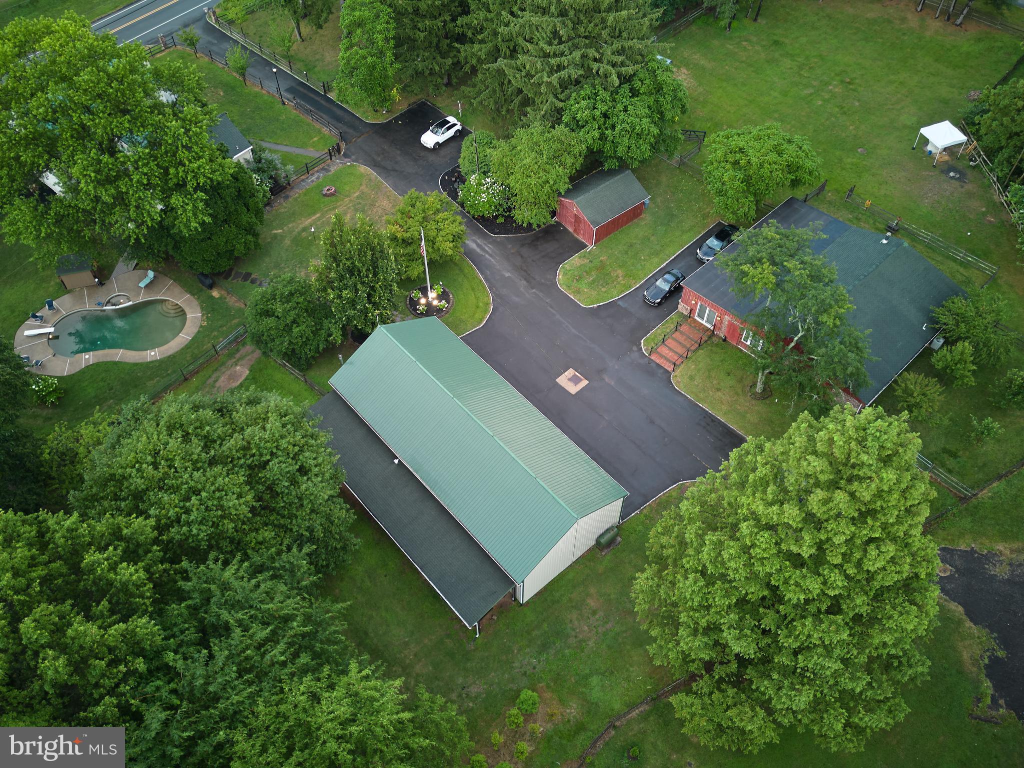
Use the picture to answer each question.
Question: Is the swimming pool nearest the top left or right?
left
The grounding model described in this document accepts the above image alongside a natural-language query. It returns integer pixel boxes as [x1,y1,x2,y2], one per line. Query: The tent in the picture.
[911,117,968,168]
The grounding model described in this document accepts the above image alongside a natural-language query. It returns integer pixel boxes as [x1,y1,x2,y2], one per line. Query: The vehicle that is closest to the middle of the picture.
[642,261,690,303]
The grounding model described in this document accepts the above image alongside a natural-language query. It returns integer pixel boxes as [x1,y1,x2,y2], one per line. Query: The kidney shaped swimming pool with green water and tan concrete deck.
[15,270,201,376]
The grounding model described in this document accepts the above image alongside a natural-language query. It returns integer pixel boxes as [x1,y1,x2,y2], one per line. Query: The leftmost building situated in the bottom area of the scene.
[298,316,631,648]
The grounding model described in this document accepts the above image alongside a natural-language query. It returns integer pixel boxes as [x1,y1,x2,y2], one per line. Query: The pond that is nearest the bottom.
[925,549,1024,723]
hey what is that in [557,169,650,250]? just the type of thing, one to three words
shed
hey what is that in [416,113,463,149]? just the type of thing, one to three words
car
